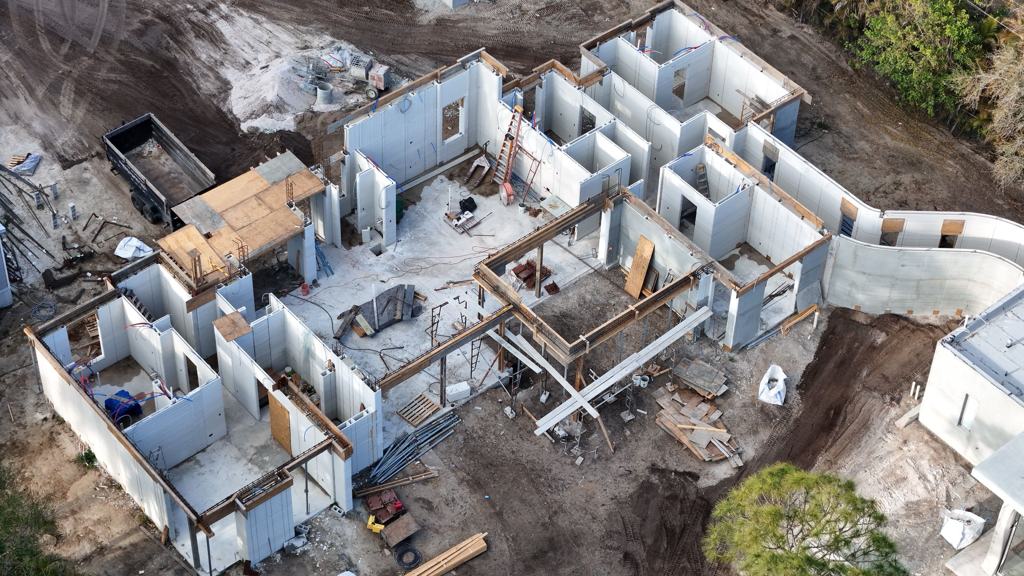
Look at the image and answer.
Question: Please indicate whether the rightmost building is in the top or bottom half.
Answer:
bottom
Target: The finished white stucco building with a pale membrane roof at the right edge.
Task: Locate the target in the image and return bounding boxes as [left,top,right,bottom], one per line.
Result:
[918,283,1024,467]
